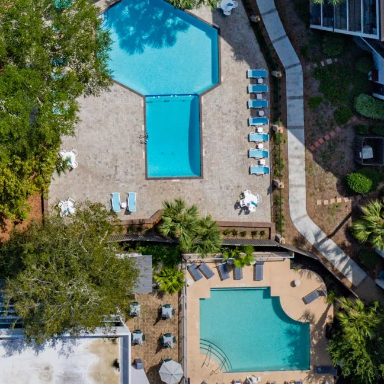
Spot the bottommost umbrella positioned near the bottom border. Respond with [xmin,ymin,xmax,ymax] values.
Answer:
[158,357,183,382]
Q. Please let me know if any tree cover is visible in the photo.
Yes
